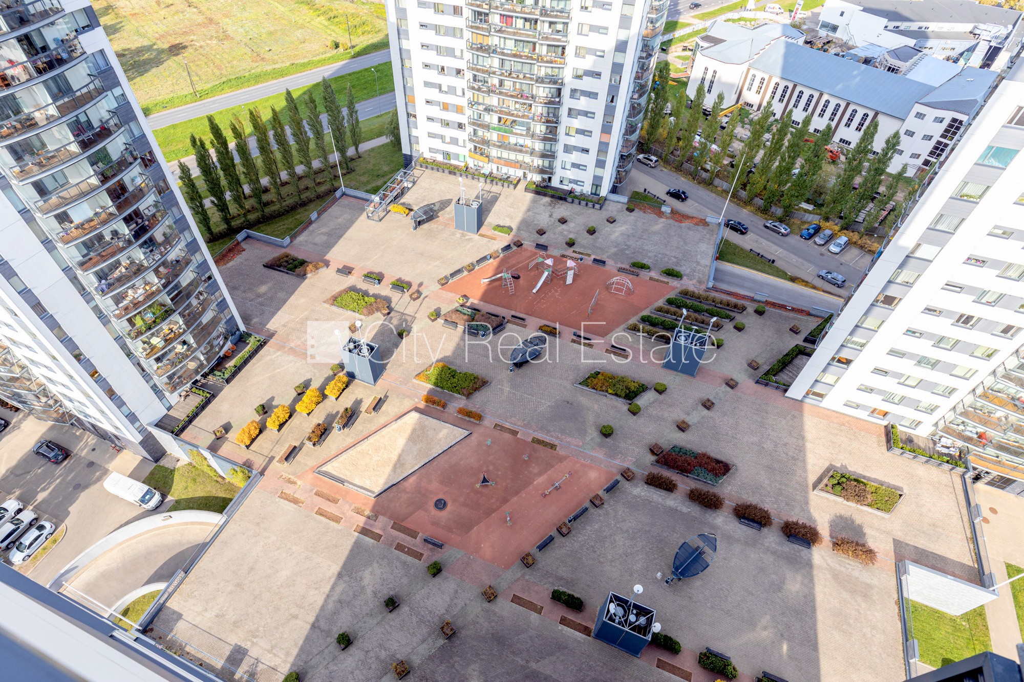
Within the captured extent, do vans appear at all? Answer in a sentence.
Yes, I can see a van in this picture.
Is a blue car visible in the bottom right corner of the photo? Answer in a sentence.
No, no blue car can be made out in the bottom right corner of the photo.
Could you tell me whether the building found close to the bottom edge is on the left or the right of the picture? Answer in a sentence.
The building found close to the bottom edge is on the left side of the image.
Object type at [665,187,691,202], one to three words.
car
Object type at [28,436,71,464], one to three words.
car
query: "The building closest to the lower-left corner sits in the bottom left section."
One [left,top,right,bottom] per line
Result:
[0,558,215,682]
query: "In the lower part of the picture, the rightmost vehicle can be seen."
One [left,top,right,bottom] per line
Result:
[95,463,158,507]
